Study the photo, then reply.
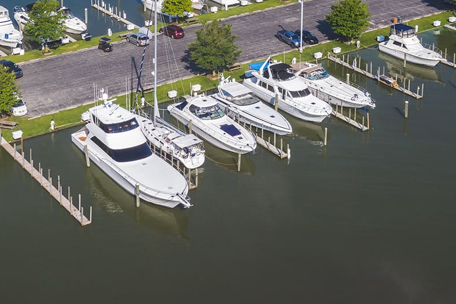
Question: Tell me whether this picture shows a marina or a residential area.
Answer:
marina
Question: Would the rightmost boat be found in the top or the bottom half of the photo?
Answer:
top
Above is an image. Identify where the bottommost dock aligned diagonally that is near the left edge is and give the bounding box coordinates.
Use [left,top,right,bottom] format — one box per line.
[0,124,93,229]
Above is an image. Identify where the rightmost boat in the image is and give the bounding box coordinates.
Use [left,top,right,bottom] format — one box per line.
[374,25,444,69]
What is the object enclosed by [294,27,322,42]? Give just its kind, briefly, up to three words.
car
